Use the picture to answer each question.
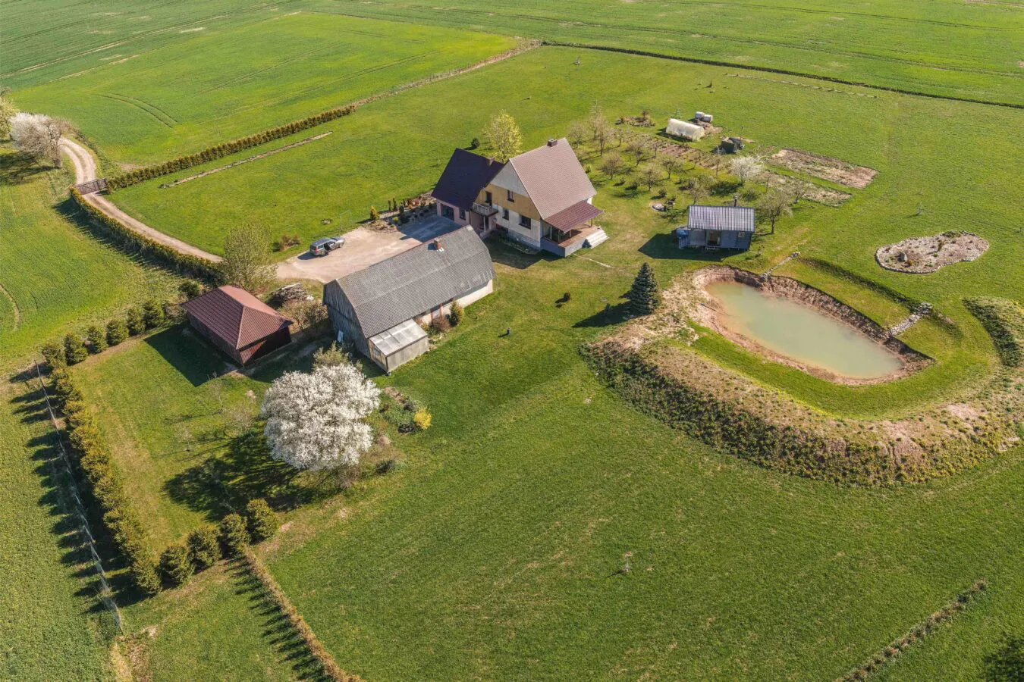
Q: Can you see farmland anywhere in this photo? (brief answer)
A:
Yes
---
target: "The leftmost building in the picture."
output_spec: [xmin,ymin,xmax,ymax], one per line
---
[180,282,294,367]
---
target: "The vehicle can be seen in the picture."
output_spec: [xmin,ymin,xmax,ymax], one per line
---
[309,236,344,254]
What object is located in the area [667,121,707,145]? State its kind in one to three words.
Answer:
greenhouse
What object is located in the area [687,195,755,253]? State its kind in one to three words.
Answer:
building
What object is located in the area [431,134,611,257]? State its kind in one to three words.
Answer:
house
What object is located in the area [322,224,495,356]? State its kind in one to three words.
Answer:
barn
